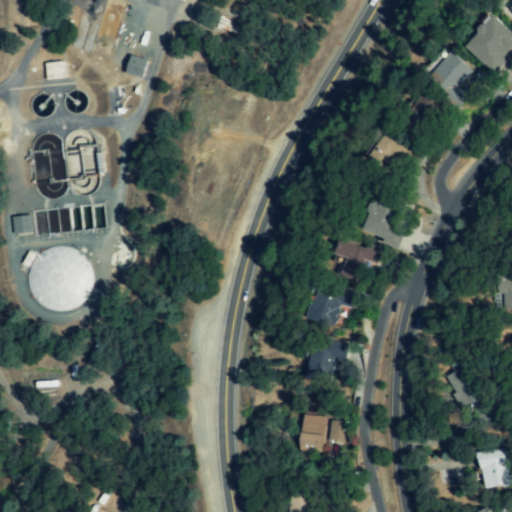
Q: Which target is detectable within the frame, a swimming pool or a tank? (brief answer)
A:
tank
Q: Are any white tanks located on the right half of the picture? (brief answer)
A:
No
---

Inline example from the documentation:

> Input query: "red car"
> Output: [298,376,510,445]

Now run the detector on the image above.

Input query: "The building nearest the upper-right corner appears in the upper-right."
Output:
[466,13,512,70]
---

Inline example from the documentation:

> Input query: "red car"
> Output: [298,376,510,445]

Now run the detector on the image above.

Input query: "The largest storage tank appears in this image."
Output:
[28,245,96,312]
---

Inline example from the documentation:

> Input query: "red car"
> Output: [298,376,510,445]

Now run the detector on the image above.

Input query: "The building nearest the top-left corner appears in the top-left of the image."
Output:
[46,60,69,80]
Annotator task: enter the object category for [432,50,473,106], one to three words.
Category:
house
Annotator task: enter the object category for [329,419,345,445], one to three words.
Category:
building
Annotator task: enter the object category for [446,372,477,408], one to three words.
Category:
house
